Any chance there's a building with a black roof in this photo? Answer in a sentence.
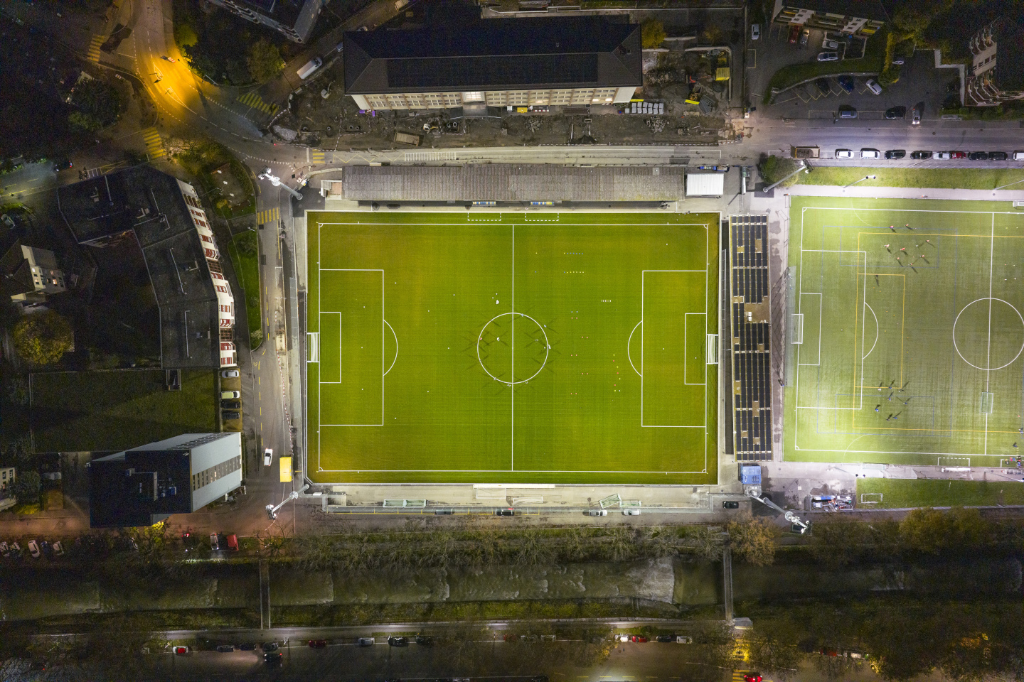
Yes, looking at the shot, I can spot a building with a black roof.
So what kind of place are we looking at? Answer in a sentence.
What you see here is a sports ground.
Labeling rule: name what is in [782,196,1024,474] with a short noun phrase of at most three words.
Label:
soccer field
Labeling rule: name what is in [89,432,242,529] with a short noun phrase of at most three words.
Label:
building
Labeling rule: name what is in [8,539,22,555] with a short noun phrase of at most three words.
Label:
car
